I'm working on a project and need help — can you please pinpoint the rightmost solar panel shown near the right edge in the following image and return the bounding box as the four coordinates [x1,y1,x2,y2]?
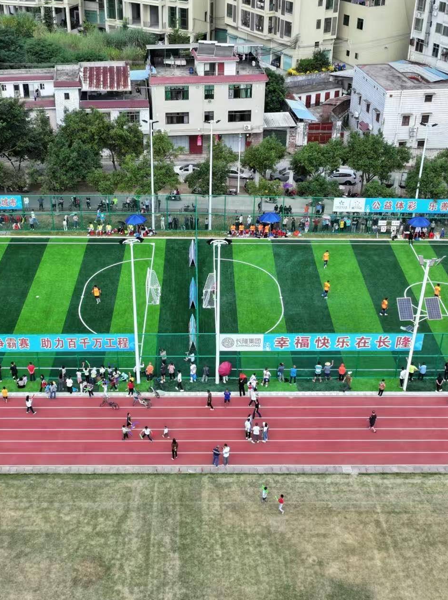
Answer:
[425,297,443,321]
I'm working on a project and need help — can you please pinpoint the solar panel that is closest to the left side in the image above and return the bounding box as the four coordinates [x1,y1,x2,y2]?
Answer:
[395,297,412,321]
